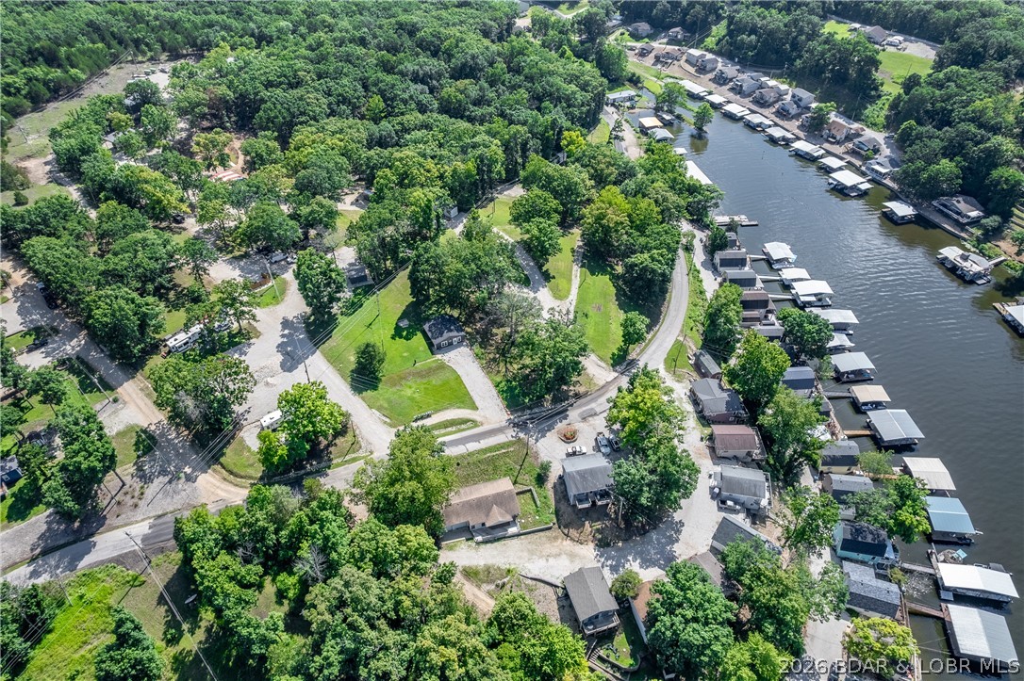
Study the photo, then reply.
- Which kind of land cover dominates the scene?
trees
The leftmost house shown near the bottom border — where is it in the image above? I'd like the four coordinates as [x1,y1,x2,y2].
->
[563,566,625,649]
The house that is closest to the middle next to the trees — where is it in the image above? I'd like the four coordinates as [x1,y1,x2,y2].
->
[424,316,465,351]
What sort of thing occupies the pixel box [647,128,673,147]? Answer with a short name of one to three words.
pier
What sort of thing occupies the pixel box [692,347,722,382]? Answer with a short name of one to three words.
shed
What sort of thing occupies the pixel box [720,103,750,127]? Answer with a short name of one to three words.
pier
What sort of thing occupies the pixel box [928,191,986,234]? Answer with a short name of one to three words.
house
